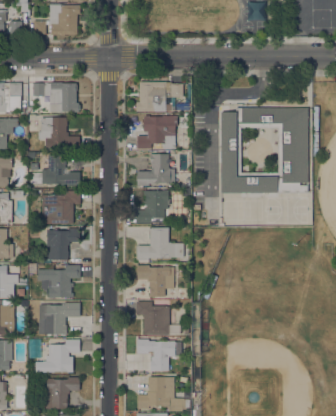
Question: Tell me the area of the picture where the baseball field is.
bottom right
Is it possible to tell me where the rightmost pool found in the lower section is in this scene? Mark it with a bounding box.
[29,338,43,359]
